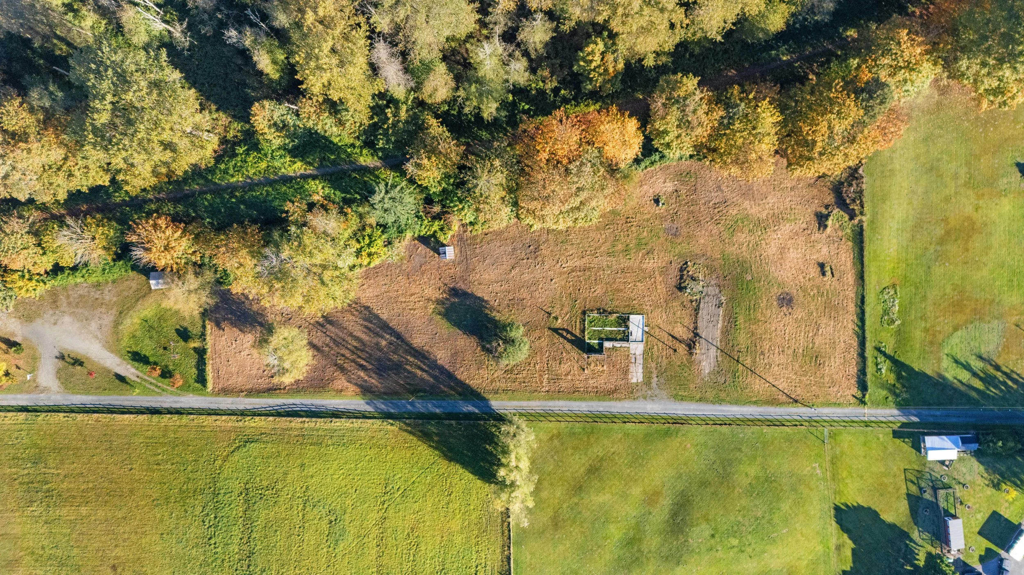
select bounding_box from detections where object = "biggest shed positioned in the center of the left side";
[148,272,173,289]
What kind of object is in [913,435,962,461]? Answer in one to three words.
shed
